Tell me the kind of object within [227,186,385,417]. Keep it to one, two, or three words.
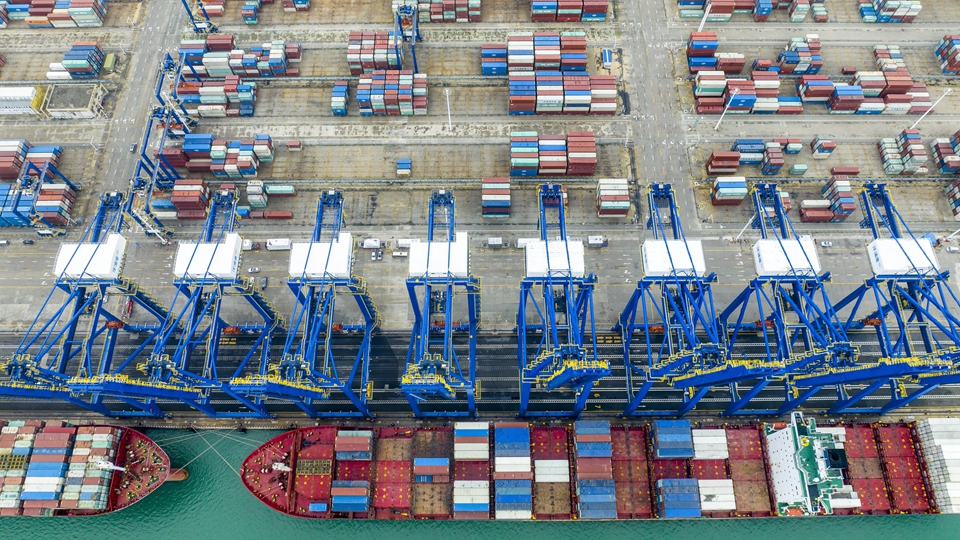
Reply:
container crane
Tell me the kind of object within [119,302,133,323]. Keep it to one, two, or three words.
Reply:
vehicle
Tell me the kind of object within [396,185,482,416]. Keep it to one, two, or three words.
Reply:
container crane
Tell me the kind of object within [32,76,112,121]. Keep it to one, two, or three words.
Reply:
building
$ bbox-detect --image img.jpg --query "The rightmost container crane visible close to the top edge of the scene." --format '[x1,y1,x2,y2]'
[393,3,423,72]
